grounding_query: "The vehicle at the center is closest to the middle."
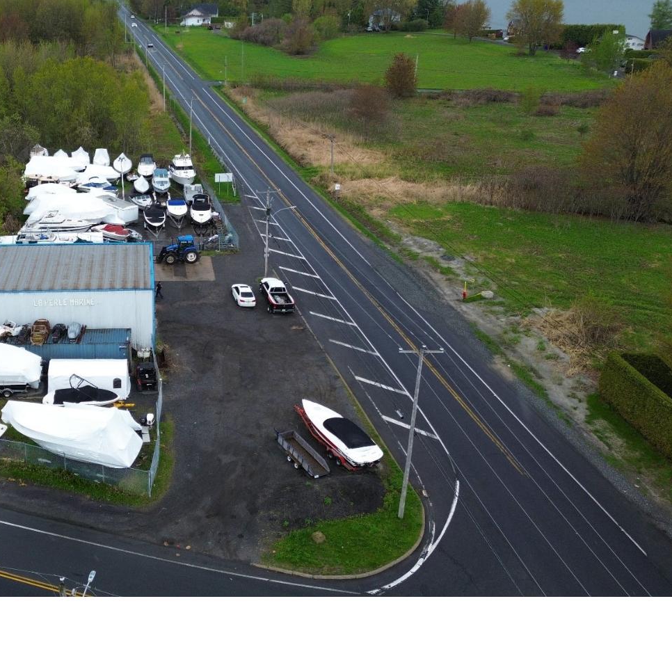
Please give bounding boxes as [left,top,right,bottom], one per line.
[261,282,297,315]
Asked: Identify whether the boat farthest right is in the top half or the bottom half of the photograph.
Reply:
bottom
